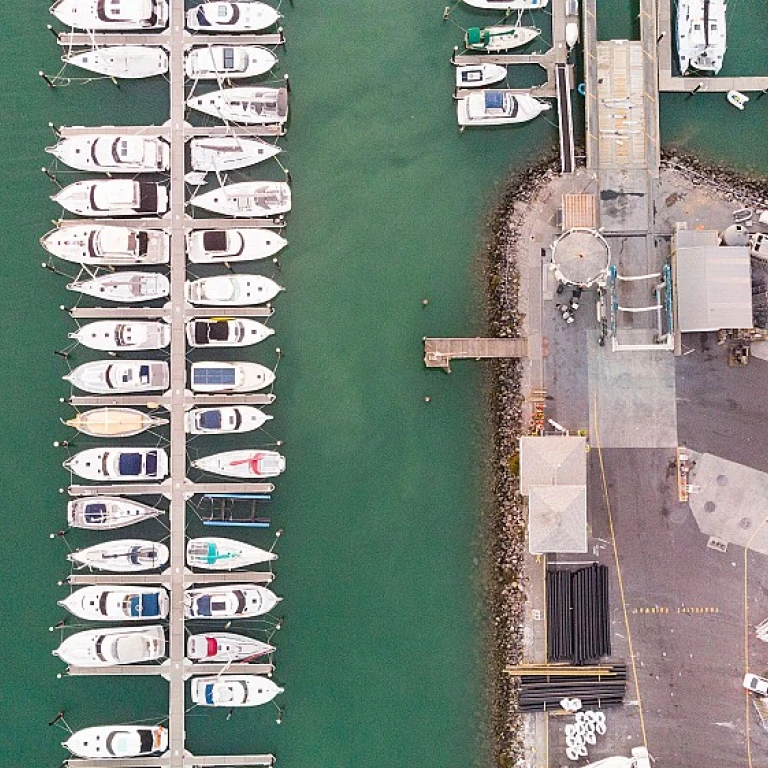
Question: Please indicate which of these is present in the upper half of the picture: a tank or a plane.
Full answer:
It is a tank that can be seen in the upper half of the picture.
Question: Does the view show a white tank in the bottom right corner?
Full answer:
No, looking in the bottom right corner, there is no white tank.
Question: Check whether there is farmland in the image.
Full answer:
No, there's no farmland in this view.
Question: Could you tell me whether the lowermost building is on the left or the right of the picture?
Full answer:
It is on the right.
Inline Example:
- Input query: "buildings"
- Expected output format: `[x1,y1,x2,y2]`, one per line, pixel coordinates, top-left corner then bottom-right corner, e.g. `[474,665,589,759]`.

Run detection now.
[520,432,588,554]
[664,230,753,332]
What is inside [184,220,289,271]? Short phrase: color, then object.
white boat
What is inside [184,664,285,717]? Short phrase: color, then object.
white boat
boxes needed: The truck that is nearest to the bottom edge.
[629,742,655,768]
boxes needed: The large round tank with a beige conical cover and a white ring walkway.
[550,227,610,287]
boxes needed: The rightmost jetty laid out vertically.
[639,0,662,169]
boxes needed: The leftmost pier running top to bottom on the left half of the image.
[52,0,290,768]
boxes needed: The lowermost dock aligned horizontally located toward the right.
[422,336,530,374]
